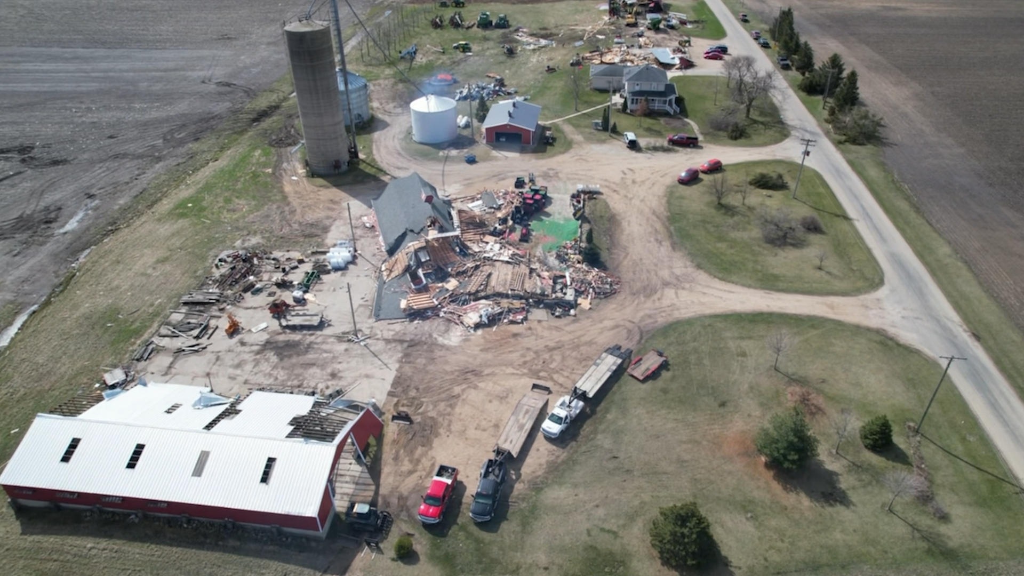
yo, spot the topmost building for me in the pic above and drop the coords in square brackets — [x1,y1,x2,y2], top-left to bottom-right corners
[587,64,686,116]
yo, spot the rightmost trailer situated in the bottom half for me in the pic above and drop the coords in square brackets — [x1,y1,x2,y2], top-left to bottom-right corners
[627,348,669,379]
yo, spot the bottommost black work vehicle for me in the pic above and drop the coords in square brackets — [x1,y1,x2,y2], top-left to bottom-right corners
[342,504,404,544]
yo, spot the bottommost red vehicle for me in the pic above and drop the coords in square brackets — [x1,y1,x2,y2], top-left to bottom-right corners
[418,462,460,525]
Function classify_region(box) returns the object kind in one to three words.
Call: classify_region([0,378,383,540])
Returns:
barn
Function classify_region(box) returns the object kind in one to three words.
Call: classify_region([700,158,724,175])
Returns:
car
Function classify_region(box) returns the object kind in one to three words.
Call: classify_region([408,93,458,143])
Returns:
silo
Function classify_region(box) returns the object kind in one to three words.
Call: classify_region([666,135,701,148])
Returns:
vehicle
